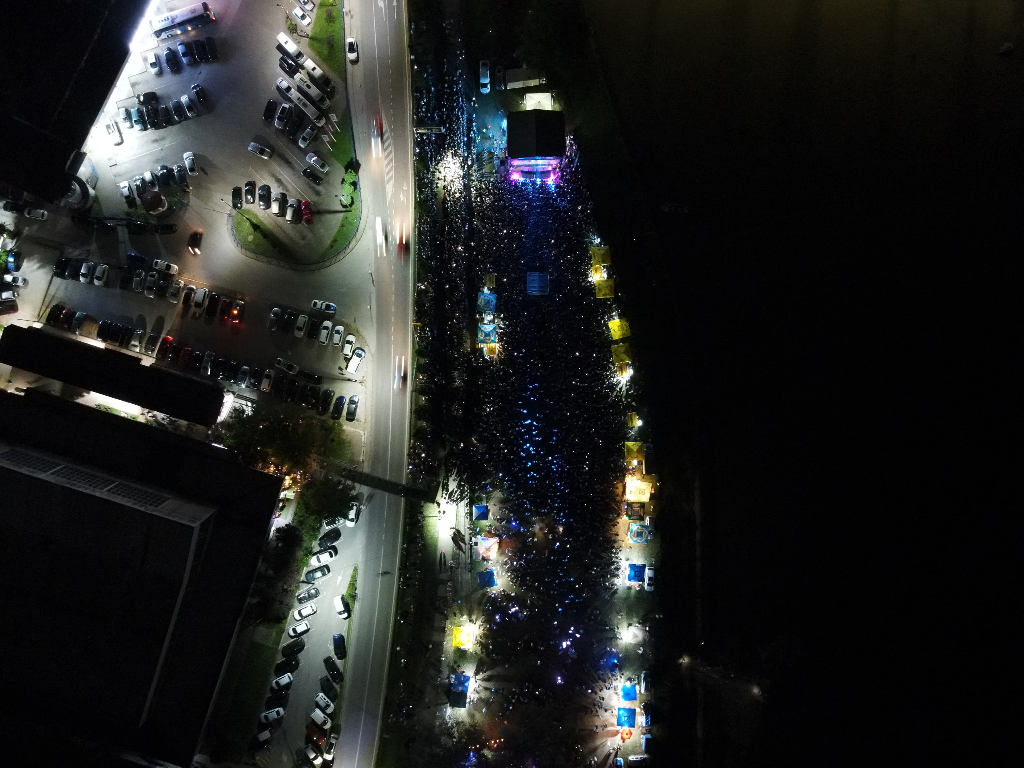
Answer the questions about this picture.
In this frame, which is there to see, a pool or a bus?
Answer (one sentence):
There is a bus in the scene.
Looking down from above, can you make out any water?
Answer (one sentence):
Yes, the picture does contain water.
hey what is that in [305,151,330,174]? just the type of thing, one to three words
car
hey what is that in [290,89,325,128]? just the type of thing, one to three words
vehicle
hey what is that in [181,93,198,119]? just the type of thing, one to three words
car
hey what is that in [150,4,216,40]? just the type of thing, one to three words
bus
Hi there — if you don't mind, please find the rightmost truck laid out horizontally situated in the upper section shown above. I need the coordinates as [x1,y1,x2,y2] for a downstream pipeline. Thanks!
[504,67,547,90]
